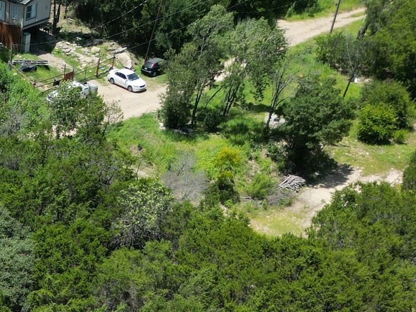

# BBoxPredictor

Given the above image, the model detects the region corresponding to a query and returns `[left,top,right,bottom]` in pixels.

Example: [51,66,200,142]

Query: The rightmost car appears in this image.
[142,59,163,77]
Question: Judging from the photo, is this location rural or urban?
rural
